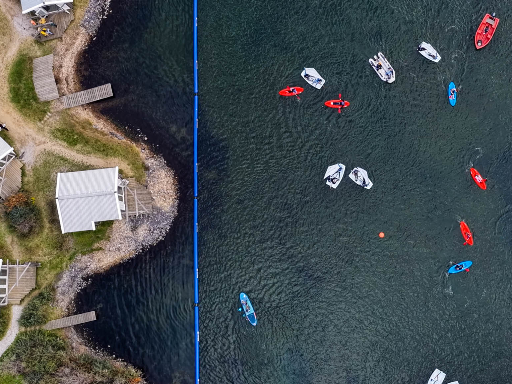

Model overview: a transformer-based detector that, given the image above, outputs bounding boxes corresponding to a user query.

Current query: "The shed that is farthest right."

[56,166,157,234]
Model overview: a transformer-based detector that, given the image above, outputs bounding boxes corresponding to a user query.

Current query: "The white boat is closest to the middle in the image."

[324,164,345,188]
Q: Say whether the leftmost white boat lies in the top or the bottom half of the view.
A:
top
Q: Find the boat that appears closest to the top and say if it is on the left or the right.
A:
right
